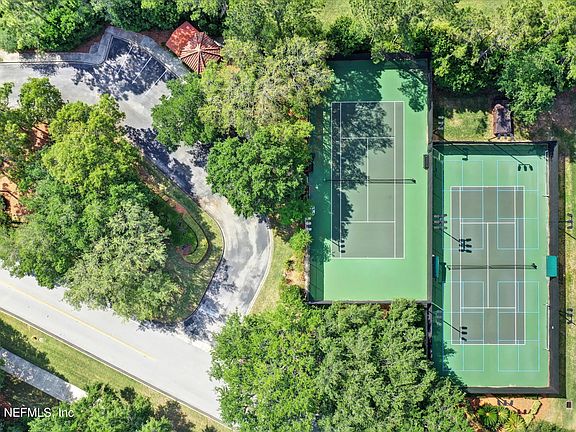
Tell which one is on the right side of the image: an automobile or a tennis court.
tennis court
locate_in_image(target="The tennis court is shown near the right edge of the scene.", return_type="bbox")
[433,143,549,387]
